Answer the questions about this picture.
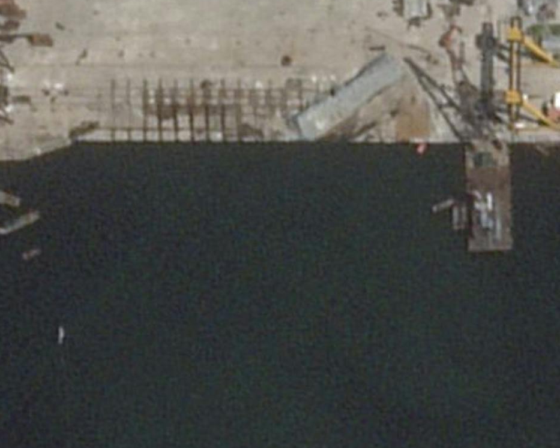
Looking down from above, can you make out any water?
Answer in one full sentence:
Yes, there's water in this view.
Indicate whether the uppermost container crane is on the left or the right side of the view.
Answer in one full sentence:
The uppermost container crane is on the right side of the image.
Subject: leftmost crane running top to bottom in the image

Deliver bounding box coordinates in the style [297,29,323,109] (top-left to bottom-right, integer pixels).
[445,29,514,253]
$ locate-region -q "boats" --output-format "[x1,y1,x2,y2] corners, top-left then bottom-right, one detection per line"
[0,193,22,210]
[0,209,41,231]
[452,205,457,230]
[433,199,455,211]
[57,326,63,345]
[22,249,41,260]
[461,206,466,229]
[417,143,424,153]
